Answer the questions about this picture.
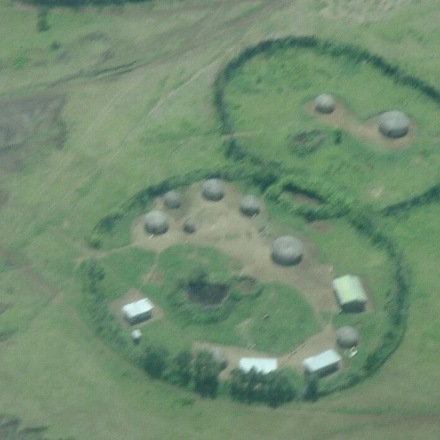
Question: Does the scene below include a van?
No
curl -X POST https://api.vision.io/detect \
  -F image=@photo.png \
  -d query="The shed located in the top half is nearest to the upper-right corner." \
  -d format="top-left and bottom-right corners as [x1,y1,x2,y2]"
[378,111,410,140]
